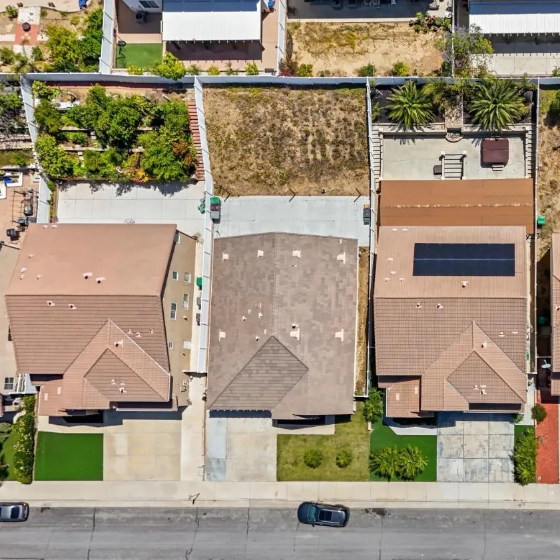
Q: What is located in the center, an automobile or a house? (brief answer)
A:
house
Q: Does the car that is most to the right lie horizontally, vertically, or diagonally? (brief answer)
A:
horizontally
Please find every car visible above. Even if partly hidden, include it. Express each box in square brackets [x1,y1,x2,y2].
[297,501,351,528]
[0,500,34,521]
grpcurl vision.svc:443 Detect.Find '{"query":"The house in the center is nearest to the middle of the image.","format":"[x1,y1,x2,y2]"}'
[204,234,358,419]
